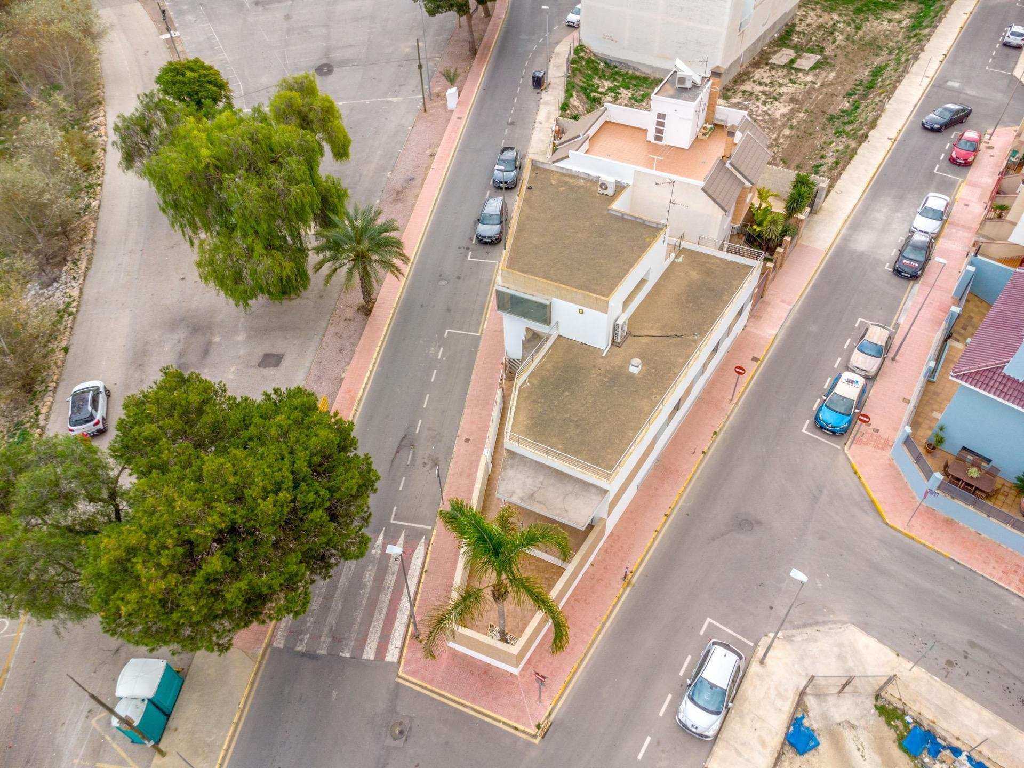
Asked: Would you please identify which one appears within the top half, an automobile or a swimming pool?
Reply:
automobile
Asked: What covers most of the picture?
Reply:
paved ground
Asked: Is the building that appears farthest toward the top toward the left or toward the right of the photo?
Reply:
right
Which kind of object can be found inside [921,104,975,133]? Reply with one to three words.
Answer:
car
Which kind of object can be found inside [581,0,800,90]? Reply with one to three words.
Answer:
building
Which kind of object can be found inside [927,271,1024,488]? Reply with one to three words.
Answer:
house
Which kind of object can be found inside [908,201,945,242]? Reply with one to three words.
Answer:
car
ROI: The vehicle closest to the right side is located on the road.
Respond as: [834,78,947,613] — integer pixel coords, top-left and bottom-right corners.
[1002,26,1024,49]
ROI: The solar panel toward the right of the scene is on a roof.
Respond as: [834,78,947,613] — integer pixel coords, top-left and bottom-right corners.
[673,58,700,89]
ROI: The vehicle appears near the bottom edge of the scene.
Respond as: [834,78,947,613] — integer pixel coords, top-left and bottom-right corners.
[678,639,745,745]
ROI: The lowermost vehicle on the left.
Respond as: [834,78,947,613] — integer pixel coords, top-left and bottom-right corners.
[65,381,108,439]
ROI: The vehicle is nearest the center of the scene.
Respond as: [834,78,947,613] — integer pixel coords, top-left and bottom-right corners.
[474,198,508,244]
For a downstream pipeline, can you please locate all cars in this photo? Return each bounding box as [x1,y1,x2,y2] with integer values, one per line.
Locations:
[474,198,508,244]
[567,6,583,27]
[678,639,745,745]
[846,325,890,379]
[893,237,931,281]
[1002,26,1024,49]
[949,131,980,165]
[812,376,863,439]
[921,104,975,133]
[65,381,108,439]
[908,201,945,242]
[492,147,521,189]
